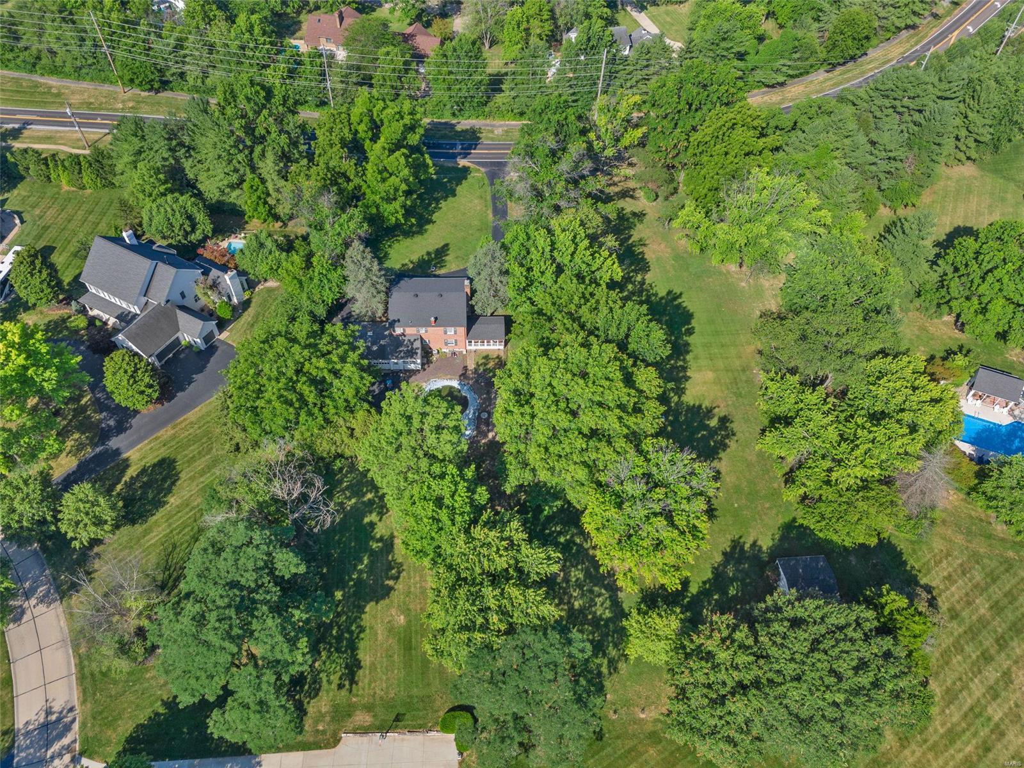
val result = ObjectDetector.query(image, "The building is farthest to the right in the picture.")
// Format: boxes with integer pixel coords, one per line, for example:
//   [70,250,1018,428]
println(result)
[962,363,1024,426]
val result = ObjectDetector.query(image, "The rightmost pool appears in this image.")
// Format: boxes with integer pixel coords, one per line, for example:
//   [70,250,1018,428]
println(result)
[949,396,1024,480]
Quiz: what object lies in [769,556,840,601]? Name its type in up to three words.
shed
